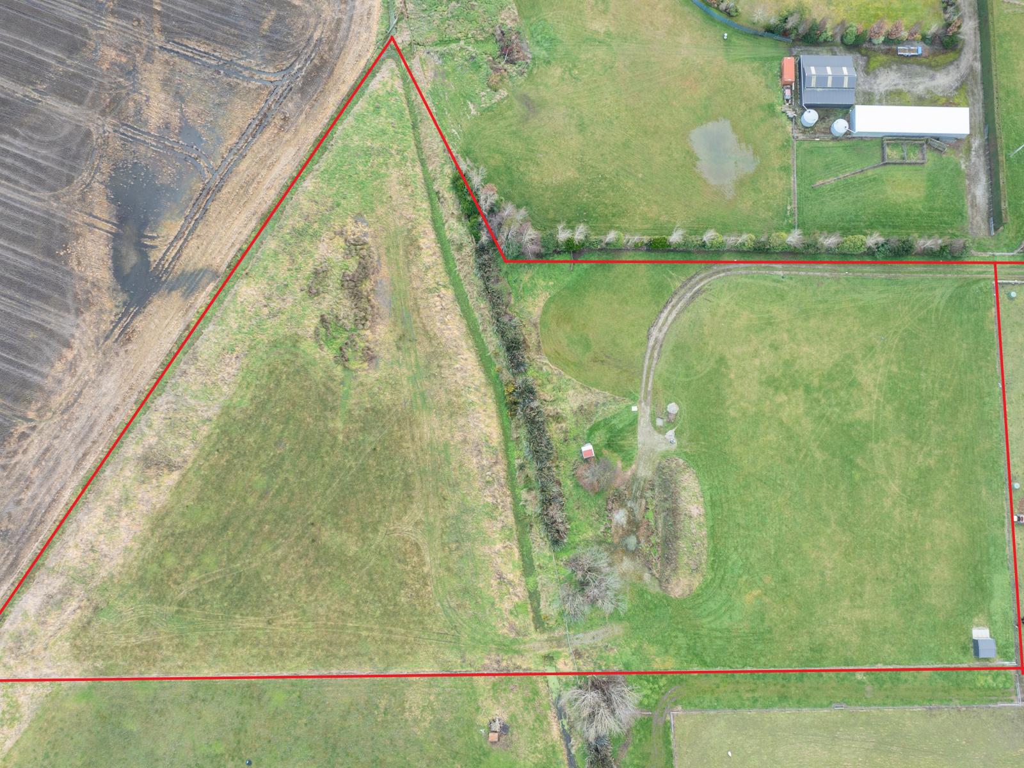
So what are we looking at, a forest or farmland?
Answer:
farmland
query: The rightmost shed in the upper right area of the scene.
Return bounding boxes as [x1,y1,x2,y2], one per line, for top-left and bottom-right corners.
[845,104,971,137]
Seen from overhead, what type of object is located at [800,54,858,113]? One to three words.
shed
